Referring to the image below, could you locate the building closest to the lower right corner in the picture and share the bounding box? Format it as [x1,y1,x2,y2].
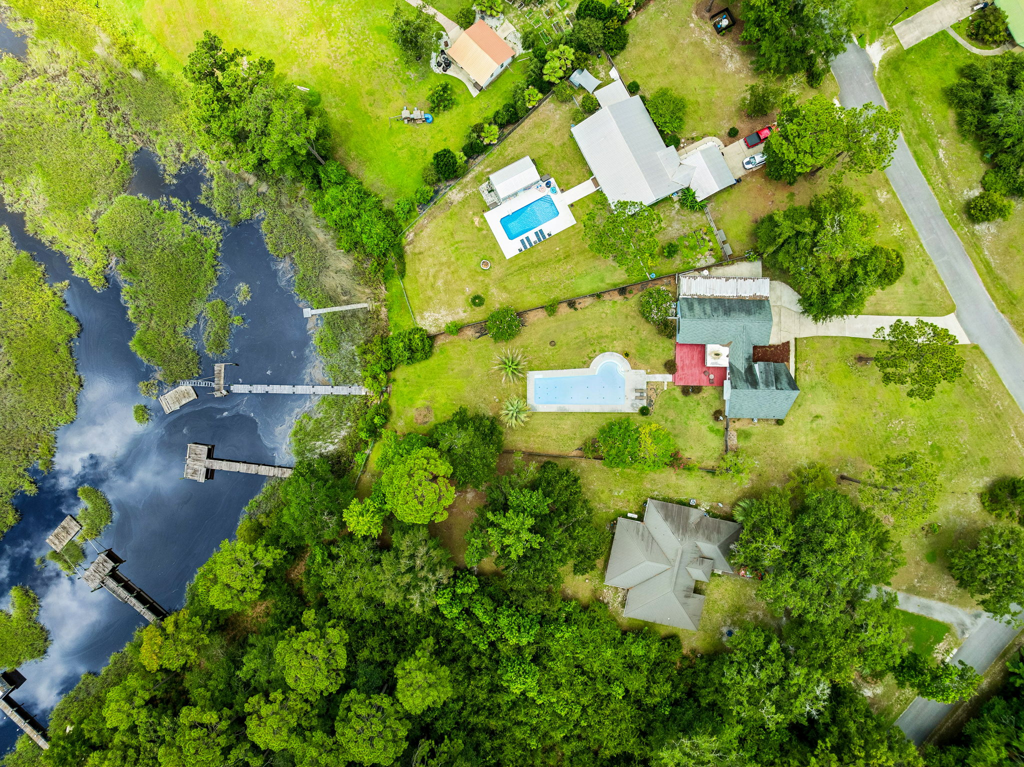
[604,498,743,632]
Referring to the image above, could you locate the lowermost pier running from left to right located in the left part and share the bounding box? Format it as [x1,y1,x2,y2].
[184,443,286,483]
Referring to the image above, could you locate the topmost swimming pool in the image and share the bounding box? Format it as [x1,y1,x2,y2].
[484,178,593,259]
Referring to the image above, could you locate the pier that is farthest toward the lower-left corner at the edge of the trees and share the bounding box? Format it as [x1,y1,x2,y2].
[0,671,44,749]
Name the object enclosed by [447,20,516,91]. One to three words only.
house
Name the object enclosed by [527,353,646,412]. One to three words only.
swimming pool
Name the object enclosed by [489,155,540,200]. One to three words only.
building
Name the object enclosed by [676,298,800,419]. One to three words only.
house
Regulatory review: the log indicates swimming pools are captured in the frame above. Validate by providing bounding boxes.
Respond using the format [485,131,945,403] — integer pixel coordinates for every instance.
[484,178,593,259]
[527,353,646,412]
